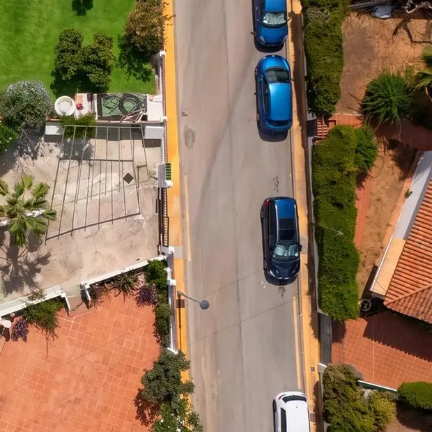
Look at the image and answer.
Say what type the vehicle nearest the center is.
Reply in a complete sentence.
The vehicle nearest the center in the image is a car.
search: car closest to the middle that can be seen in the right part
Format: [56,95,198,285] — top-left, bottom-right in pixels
[259,197,307,279]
